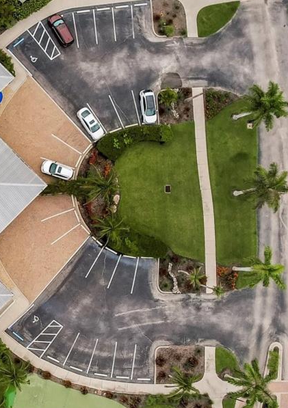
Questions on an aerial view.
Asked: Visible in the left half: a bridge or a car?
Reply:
car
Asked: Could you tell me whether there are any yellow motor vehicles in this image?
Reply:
No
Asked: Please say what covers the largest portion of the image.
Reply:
paved ground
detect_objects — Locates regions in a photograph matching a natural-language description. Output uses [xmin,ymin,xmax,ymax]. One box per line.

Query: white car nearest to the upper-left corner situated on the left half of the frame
[78,106,105,140]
